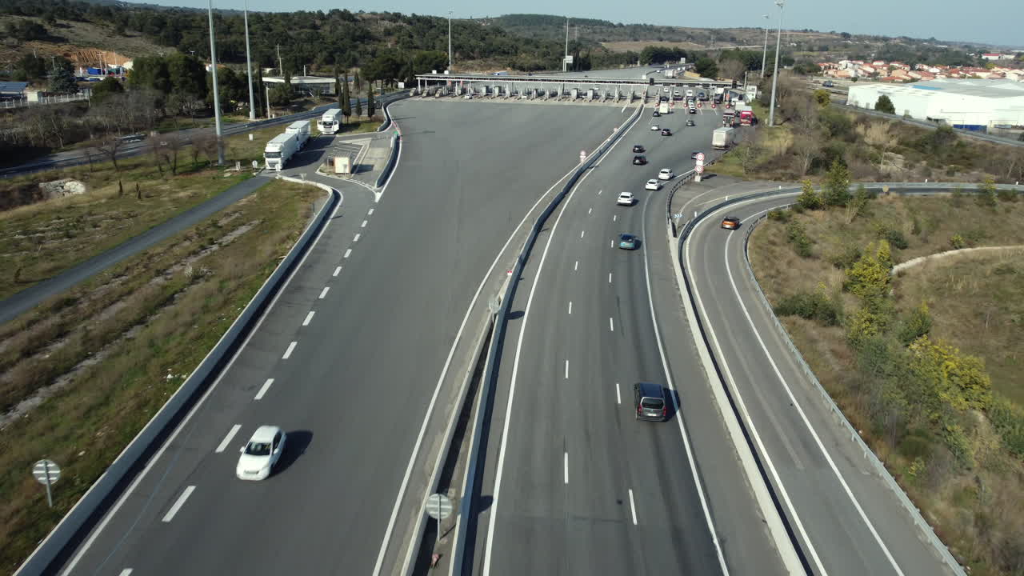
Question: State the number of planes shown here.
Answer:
none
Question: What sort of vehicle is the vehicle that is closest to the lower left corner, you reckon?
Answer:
car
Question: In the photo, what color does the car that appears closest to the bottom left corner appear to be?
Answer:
white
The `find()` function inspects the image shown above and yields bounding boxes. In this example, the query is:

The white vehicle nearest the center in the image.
[618,190,633,204]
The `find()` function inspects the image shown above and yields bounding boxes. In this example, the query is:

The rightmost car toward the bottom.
[630,379,666,421]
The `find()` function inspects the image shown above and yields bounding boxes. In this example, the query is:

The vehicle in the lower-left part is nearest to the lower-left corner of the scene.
[238,425,291,480]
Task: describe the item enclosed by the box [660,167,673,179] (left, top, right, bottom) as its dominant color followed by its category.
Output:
white vehicle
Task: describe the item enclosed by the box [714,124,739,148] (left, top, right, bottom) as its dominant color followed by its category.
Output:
white truck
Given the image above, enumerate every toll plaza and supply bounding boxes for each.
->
[411,71,749,99]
